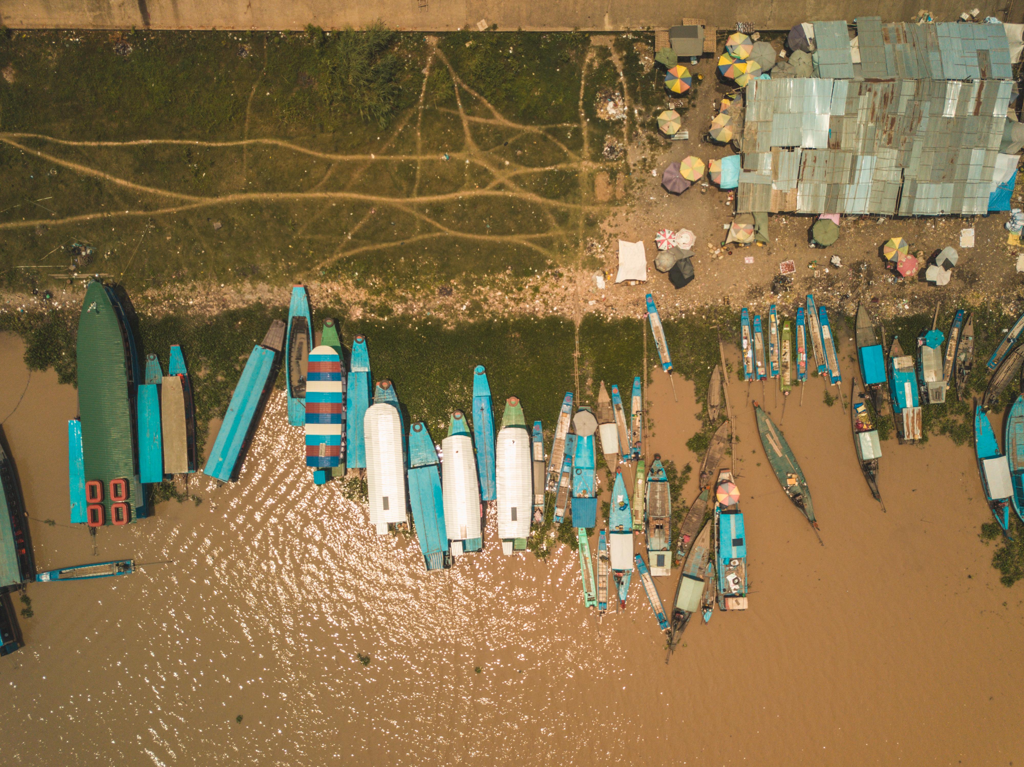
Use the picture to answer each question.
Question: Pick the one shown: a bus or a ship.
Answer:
ship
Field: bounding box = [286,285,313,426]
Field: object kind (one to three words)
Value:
ship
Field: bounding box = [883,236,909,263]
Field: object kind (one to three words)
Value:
umbrella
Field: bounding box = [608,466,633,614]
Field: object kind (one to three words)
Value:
boat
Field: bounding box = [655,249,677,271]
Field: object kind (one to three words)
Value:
umbrella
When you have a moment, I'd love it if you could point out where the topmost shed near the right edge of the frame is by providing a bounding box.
[811,16,1012,86]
